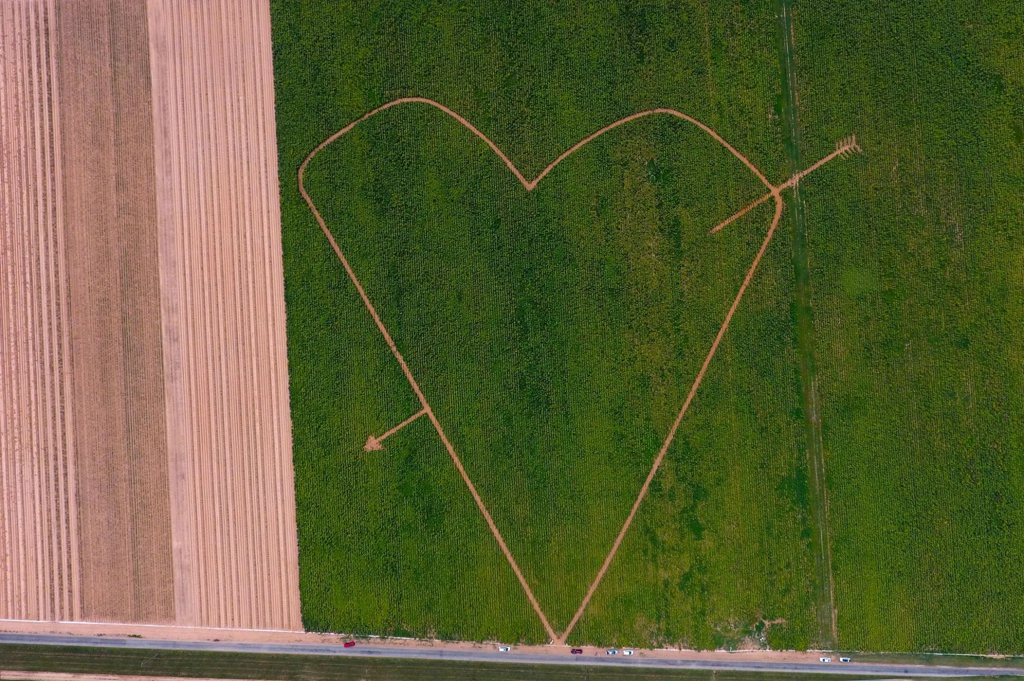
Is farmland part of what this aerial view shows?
Yes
